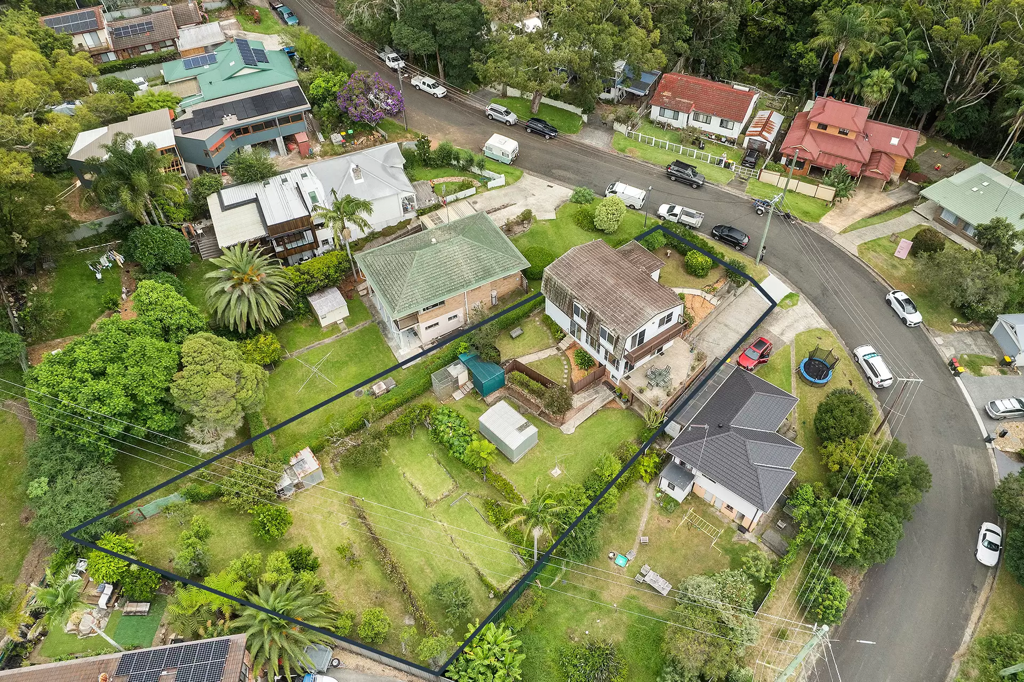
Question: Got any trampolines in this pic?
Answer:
Yes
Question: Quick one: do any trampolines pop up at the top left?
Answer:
No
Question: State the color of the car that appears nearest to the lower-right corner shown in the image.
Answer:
white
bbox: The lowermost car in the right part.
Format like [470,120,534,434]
[971,516,1007,572]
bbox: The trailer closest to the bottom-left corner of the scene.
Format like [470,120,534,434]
[298,644,352,677]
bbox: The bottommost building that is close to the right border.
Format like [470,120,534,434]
[990,305,1024,361]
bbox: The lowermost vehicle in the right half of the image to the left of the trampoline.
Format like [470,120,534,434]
[738,334,775,375]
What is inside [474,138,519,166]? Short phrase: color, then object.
white camper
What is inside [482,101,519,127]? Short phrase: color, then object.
gray car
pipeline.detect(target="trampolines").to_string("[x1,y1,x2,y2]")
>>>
[794,348,837,388]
